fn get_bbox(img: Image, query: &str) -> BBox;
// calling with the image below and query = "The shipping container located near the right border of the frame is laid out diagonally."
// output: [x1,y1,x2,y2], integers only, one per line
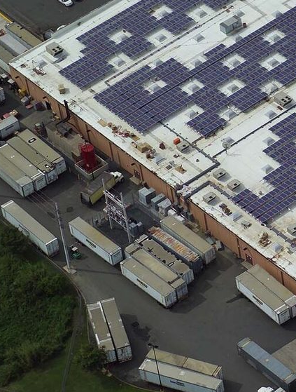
[237,336,296,392]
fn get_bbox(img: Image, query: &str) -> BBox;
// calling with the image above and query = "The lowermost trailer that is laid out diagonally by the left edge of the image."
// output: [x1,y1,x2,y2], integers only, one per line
[2,199,60,255]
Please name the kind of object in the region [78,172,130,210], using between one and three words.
truck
